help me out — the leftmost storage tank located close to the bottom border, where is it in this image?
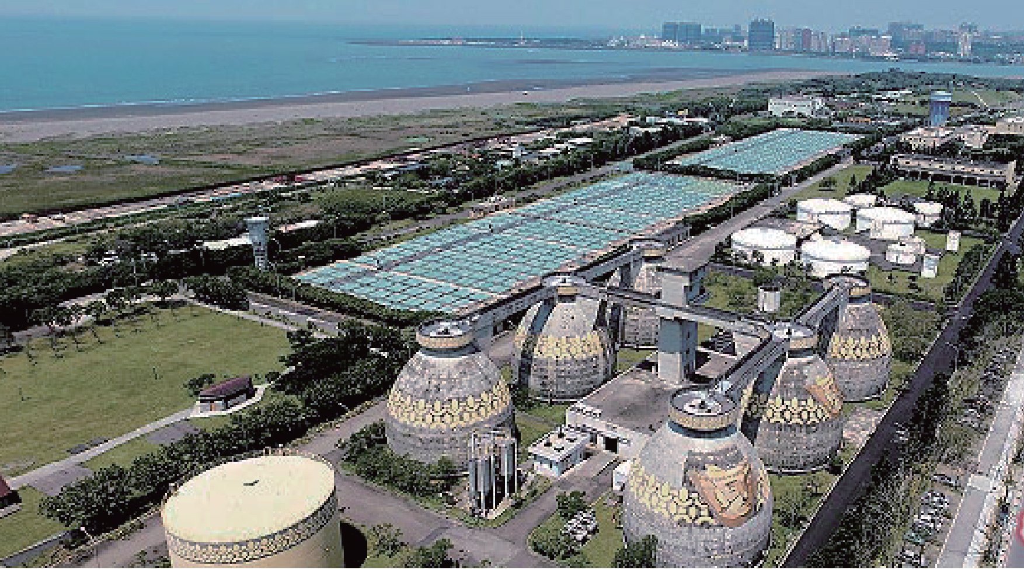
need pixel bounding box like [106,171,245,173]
[161,443,338,569]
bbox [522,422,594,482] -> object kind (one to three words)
house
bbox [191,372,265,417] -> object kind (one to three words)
building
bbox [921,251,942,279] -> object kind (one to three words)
silo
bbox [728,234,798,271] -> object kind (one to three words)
storage tank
